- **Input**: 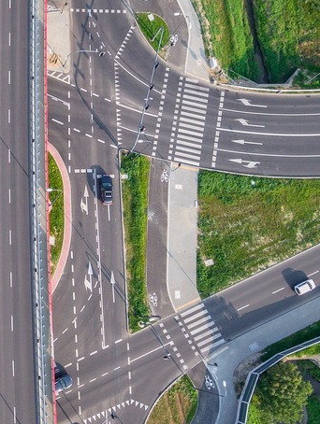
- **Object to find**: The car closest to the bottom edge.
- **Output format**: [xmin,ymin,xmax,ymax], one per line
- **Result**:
[53,372,75,392]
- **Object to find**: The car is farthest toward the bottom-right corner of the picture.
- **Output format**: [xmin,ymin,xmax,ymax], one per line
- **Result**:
[294,278,320,296]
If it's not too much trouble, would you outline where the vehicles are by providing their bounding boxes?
[294,278,320,296]
[100,174,114,204]
[53,372,75,392]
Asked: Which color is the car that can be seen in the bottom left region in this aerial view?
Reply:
blue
